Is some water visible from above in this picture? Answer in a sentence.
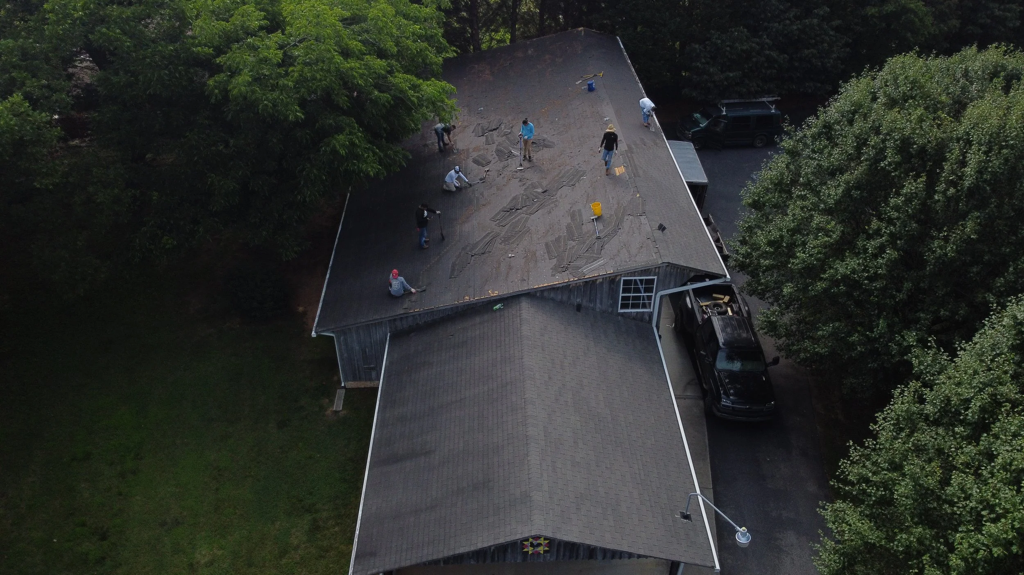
No, no water is visible.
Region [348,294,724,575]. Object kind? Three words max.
building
